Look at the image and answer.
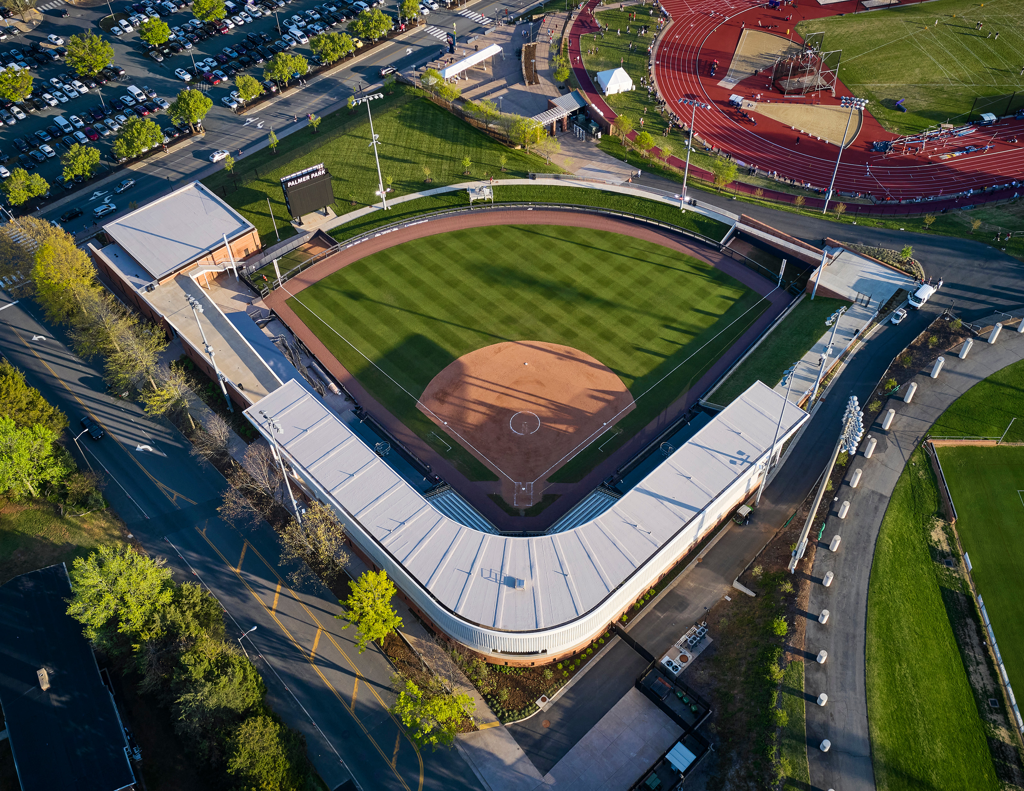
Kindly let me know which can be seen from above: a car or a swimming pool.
car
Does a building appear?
Yes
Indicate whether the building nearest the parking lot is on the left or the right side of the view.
left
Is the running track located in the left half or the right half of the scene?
right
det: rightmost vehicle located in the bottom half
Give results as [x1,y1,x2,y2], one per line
[735,501,755,523]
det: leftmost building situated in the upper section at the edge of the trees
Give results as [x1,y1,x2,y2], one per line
[103,186,258,291]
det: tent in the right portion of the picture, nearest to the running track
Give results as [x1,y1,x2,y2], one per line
[597,62,633,94]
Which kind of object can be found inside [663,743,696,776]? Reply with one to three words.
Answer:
shed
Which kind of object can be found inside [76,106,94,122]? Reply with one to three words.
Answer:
car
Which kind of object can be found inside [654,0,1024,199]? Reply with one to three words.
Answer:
running track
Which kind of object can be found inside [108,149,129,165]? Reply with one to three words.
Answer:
vehicle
